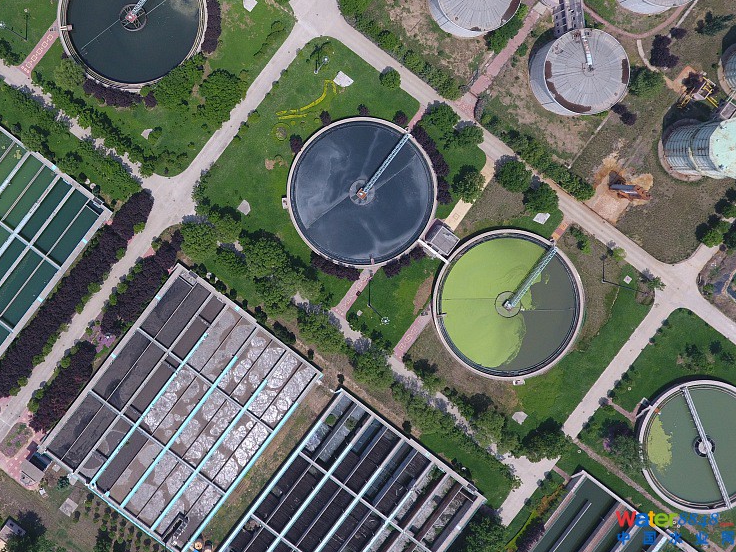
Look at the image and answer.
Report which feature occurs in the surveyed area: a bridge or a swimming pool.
bridge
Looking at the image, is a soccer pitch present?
No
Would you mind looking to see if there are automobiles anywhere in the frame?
No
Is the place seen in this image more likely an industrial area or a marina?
industrial area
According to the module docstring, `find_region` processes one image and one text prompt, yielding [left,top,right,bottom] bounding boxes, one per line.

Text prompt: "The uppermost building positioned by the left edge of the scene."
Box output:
[20,450,53,483]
